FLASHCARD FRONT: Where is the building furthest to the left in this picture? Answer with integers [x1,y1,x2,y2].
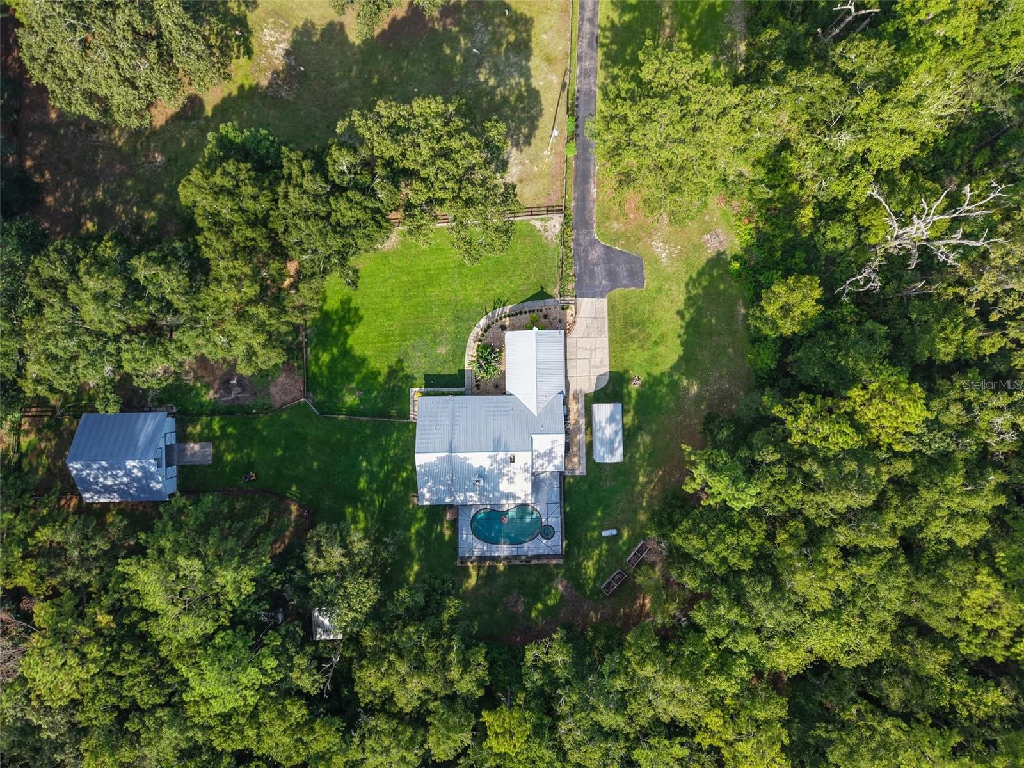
[66,413,176,503]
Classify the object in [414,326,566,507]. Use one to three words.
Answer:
house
